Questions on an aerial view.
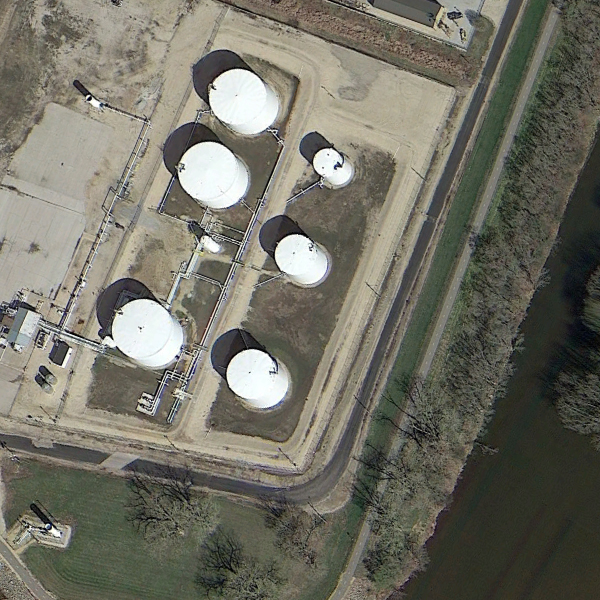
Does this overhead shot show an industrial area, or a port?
industrial area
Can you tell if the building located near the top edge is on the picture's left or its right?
right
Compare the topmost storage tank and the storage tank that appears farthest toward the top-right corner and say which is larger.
the topmost storage tank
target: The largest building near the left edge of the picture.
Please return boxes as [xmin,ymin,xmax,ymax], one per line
[6,308,43,348]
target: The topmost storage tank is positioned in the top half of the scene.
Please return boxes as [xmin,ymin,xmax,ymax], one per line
[207,67,281,138]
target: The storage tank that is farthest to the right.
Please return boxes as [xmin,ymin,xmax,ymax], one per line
[312,148,357,191]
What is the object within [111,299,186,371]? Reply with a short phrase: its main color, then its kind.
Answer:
white storage tank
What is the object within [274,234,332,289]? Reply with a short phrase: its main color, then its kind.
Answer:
white storage tank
